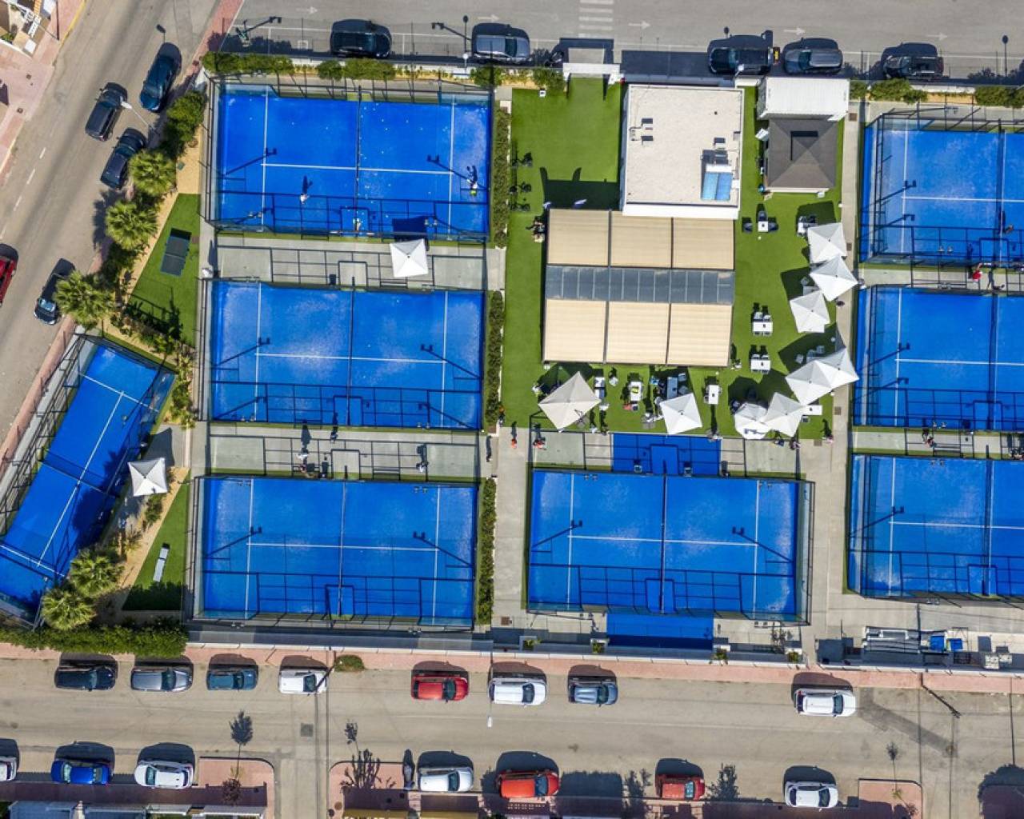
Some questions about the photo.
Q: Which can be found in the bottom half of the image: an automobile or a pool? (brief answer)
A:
automobile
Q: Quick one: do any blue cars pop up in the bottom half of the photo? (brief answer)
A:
Yes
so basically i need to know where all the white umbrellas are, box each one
[128,456,168,497]
[761,392,807,437]
[732,402,769,439]
[806,221,846,261]
[658,392,701,435]
[788,291,830,333]
[809,253,858,302]
[787,356,836,406]
[389,238,429,278]
[819,348,858,387]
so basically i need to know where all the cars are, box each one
[53,663,118,695]
[411,672,469,703]
[472,32,532,63]
[330,29,392,61]
[33,271,72,328]
[497,769,559,803]
[50,758,114,789]
[417,764,474,796]
[0,249,22,306]
[130,664,194,696]
[138,49,182,113]
[784,779,839,812]
[781,43,844,76]
[708,42,780,76]
[489,675,547,706]
[656,774,705,804]
[568,677,618,706]
[84,88,125,144]
[793,688,857,720]
[881,49,945,81]
[206,665,258,694]
[134,760,194,792]
[0,756,22,783]
[99,134,142,193]
[278,667,327,695]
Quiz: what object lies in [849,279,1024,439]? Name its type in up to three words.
sports court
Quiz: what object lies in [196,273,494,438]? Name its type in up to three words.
sports court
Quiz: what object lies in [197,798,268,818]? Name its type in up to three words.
house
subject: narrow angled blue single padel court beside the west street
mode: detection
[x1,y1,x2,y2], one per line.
[0,332,181,629]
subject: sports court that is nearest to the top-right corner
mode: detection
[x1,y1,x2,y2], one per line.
[854,100,1024,272]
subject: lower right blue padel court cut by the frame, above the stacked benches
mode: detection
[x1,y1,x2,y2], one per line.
[843,447,1024,607]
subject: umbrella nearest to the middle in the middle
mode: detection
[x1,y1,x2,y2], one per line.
[541,374,597,430]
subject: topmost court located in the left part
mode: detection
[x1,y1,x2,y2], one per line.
[205,71,501,248]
